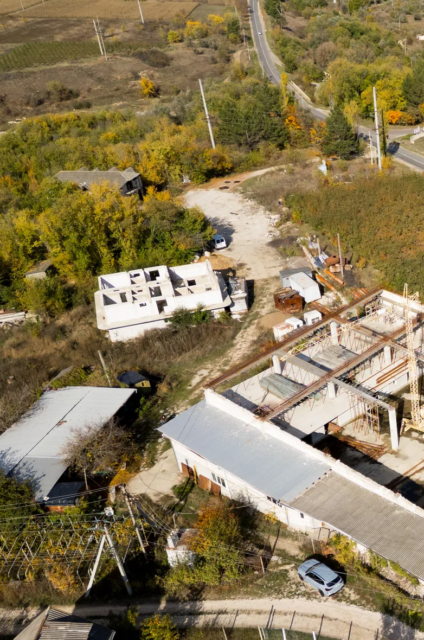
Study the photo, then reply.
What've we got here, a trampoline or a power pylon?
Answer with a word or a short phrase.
power pylon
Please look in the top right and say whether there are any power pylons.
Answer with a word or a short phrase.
Yes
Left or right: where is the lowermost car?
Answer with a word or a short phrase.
right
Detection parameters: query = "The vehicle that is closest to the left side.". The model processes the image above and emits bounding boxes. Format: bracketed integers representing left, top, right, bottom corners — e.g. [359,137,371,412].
[216,232,229,248]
